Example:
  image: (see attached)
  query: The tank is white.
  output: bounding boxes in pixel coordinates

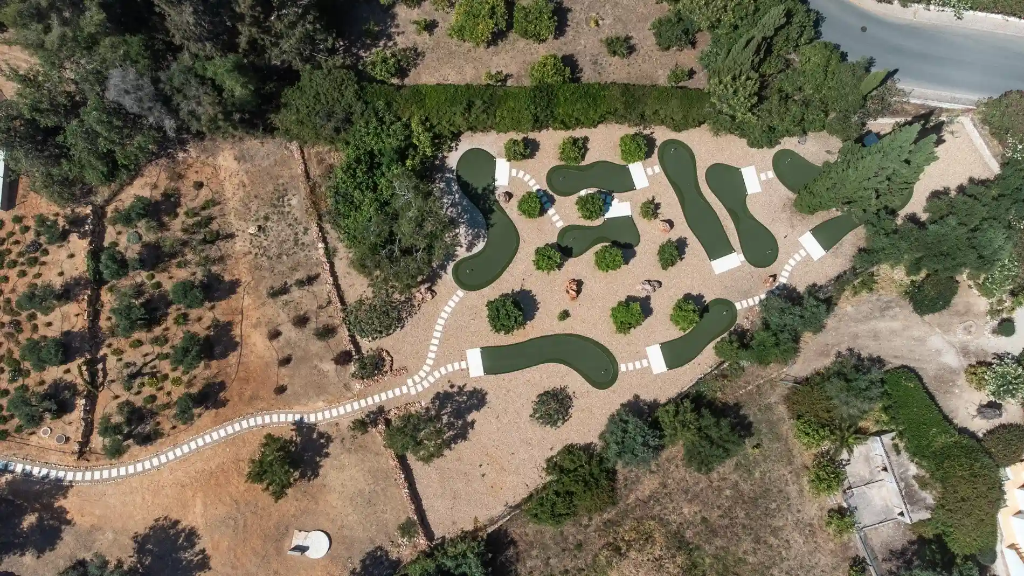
[287,529,331,558]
